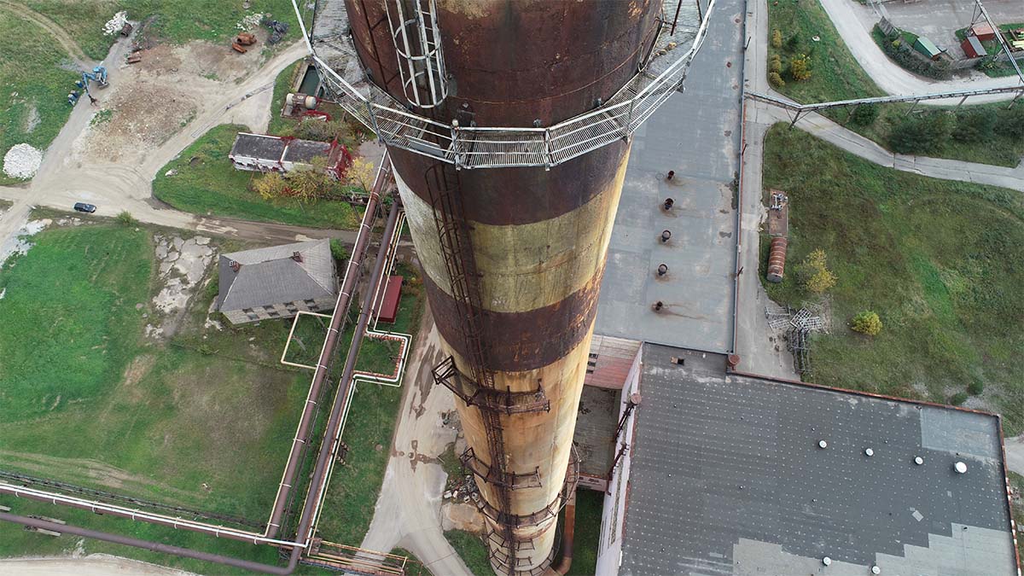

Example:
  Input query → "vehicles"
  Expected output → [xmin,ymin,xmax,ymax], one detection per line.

[81,65,111,107]
[72,200,98,215]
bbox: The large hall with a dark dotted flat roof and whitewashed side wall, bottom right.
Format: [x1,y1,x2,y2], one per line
[598,355,1022,576]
